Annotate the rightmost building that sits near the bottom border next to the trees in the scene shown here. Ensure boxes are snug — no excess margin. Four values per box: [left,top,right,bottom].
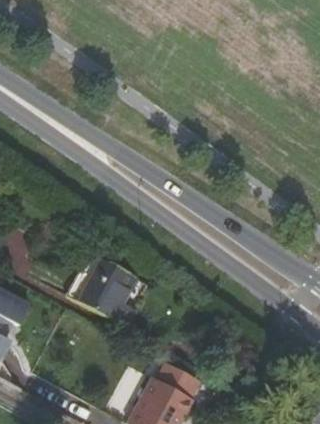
[125,362,202,424]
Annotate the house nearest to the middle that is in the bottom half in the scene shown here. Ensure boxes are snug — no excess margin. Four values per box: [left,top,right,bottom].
[68,256,136,316]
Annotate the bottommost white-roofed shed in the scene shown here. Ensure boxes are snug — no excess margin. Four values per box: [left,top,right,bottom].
[106,368,142,416]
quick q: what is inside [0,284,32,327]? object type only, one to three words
house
